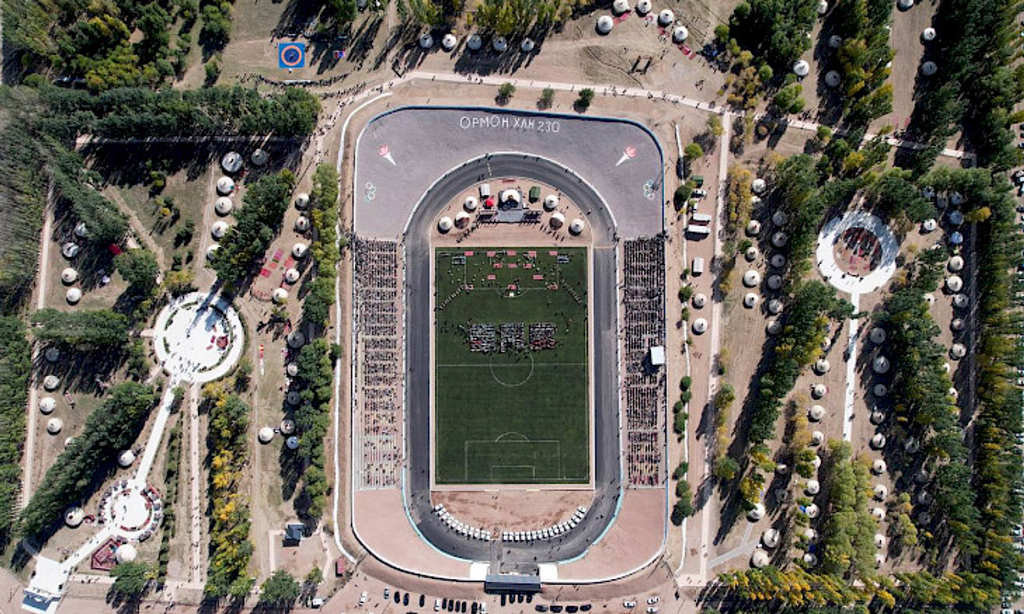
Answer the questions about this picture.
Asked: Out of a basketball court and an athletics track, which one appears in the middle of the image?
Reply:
athletics track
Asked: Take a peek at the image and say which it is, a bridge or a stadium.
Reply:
stadium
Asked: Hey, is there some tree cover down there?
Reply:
Yes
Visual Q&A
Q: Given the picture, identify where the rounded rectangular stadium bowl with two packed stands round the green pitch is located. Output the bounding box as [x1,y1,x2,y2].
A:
[352,106,668,582]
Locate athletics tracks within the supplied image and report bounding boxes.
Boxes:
[405,154,621,565]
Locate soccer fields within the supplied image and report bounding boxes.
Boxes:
[430,245,594,490]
